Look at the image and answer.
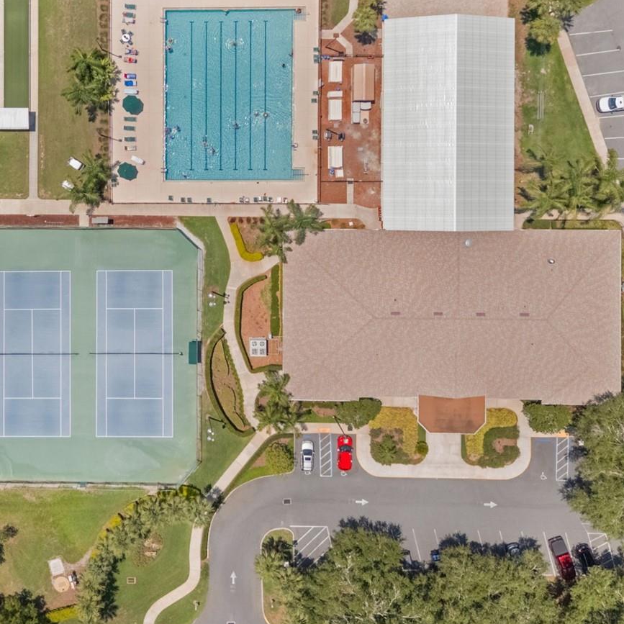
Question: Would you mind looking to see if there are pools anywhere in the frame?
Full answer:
Yes, I can see a pool in this picture.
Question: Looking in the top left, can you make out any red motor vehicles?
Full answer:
No, no red motor vehicle can be made out in the top left.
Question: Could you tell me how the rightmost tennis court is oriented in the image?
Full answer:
In this picture, the rightmost tennis court lies up and down.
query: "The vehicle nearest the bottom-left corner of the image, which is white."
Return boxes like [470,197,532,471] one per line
[301,440,317,474]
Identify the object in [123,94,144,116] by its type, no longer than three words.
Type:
umbrella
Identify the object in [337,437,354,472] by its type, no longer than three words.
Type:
car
